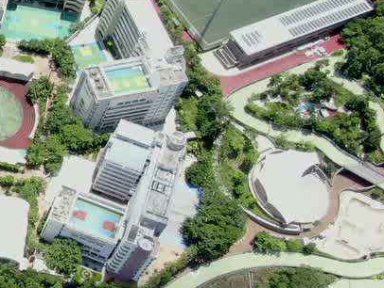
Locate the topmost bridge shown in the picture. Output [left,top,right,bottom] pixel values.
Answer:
[345,157,384,186]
